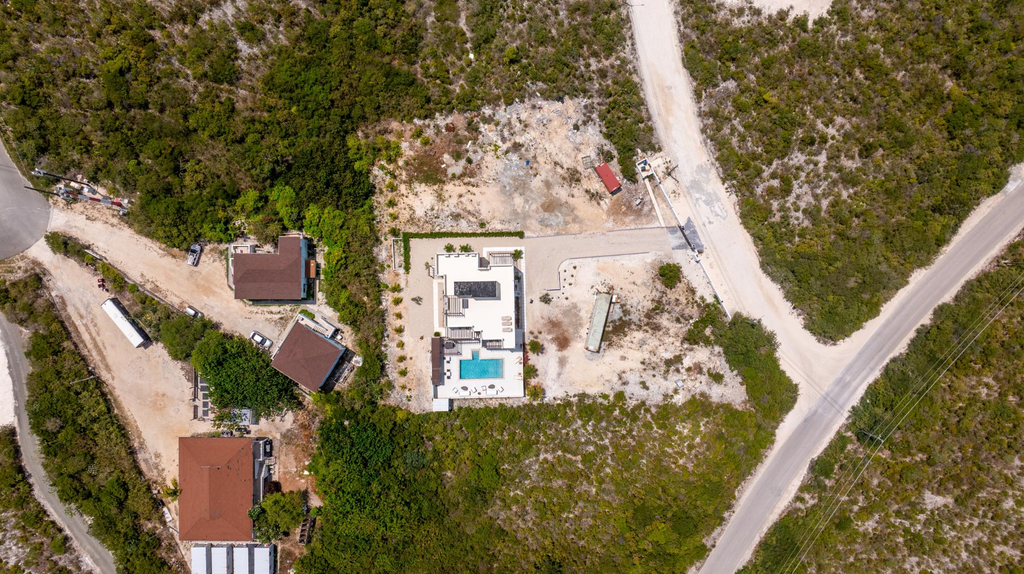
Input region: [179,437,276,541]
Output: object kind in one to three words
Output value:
house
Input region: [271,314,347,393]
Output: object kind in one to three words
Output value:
house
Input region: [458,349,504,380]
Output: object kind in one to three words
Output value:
swimming pool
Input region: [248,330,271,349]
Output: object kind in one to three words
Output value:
car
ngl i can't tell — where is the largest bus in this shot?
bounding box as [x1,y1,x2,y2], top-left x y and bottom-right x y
[95,296,144,347]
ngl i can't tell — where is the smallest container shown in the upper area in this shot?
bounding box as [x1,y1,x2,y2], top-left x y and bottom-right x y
[593,162,621,195]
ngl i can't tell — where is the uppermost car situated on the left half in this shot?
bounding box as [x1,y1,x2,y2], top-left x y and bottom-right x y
[185,244,199,266]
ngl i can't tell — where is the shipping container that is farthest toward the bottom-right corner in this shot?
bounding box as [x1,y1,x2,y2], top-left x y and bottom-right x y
[583,292,612,352]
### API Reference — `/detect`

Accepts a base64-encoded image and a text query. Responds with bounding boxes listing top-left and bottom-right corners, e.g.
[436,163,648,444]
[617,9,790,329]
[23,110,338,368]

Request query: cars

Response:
[248,330,271,349]
[185,244,199,266]
[181,305,201,319]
